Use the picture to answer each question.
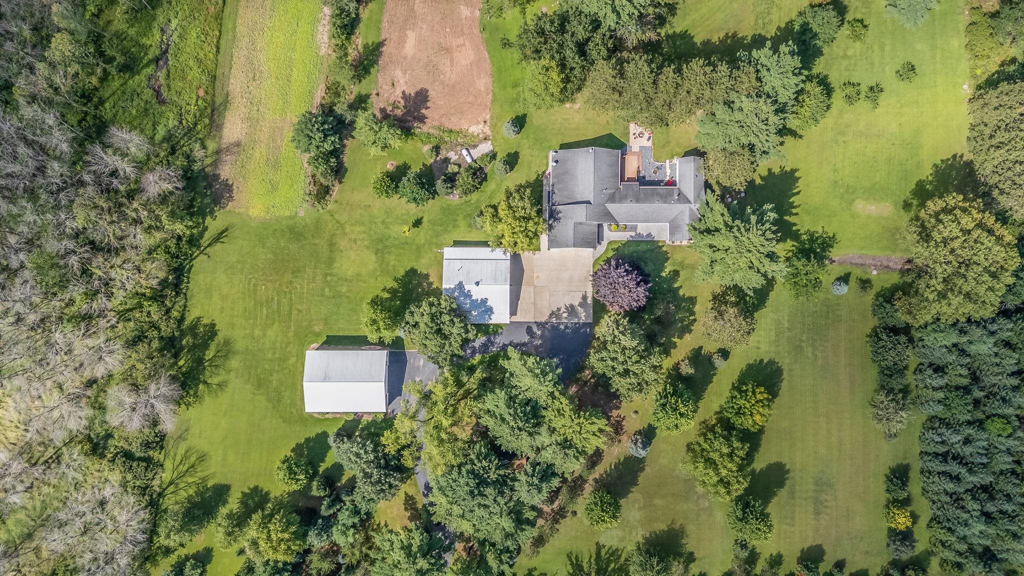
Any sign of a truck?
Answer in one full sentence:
No, there's no truck here.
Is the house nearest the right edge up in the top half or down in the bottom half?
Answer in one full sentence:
The house nearest the right edge is in the top half of the image.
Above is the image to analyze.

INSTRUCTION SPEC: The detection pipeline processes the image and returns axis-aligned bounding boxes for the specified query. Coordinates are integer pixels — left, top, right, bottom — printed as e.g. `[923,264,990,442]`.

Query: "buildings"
[302,349,391,412]
[439,248,511,323]
[547,147,704,248]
